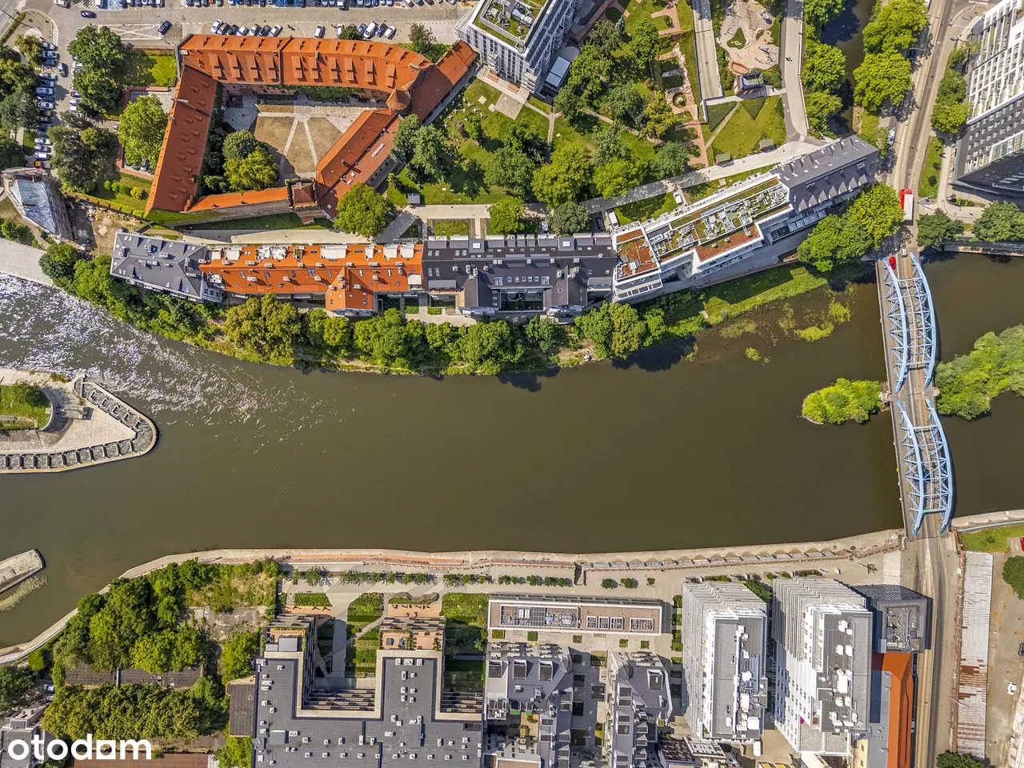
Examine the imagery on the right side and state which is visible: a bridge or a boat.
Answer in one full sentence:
Visible on the right side is a bridge.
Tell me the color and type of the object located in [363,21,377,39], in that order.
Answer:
white vehicle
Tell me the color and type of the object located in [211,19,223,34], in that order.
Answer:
white vehicle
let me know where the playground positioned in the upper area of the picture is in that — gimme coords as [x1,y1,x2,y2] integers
[721,0,779,72]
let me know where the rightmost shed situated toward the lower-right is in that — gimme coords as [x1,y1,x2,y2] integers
[951,550,993,766]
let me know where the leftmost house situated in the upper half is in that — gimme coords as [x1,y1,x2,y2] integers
[3,168,89,242]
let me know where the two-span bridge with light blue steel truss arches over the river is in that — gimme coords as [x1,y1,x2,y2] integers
[870,246,958,547]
